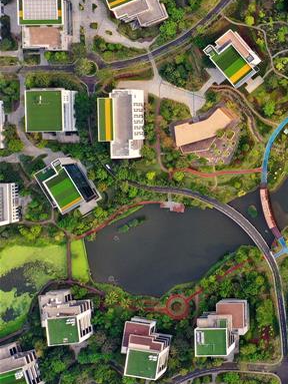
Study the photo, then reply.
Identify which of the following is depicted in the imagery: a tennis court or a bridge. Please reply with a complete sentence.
The image shows a bridge.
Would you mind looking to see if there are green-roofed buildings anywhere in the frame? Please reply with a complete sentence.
Yes, the frame does contain a green-roofed building.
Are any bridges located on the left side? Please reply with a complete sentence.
No, the scene shows no bridge on the left side.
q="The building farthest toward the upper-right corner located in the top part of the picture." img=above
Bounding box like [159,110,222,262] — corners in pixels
[203,29,264,90]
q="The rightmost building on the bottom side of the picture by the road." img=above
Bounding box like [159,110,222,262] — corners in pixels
[196,296,254,357]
